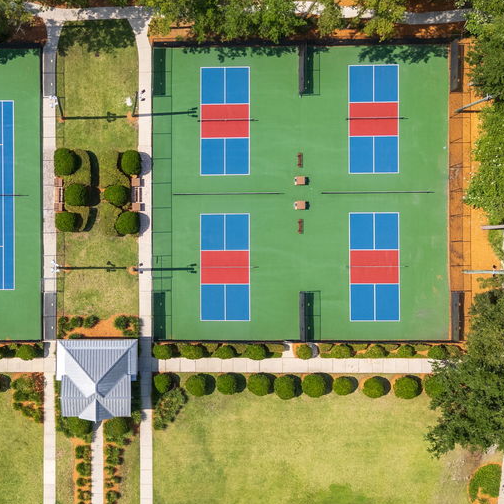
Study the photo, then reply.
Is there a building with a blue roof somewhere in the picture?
No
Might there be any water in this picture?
No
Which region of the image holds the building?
bottom left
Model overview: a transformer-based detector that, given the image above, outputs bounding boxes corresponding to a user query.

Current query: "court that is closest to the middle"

[201,214,250,321]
